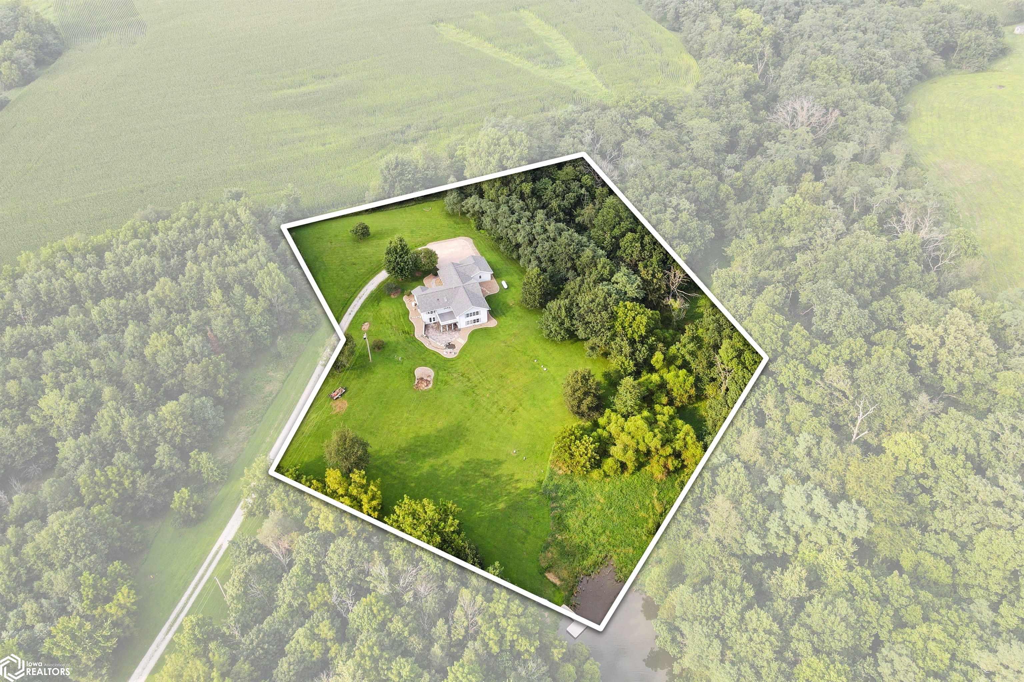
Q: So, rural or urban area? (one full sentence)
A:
The area shown here is rural.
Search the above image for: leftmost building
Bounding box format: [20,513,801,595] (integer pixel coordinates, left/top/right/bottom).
[410,255,494,331]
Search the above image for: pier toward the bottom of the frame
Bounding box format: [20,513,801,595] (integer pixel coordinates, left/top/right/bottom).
[561,605,588,638]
